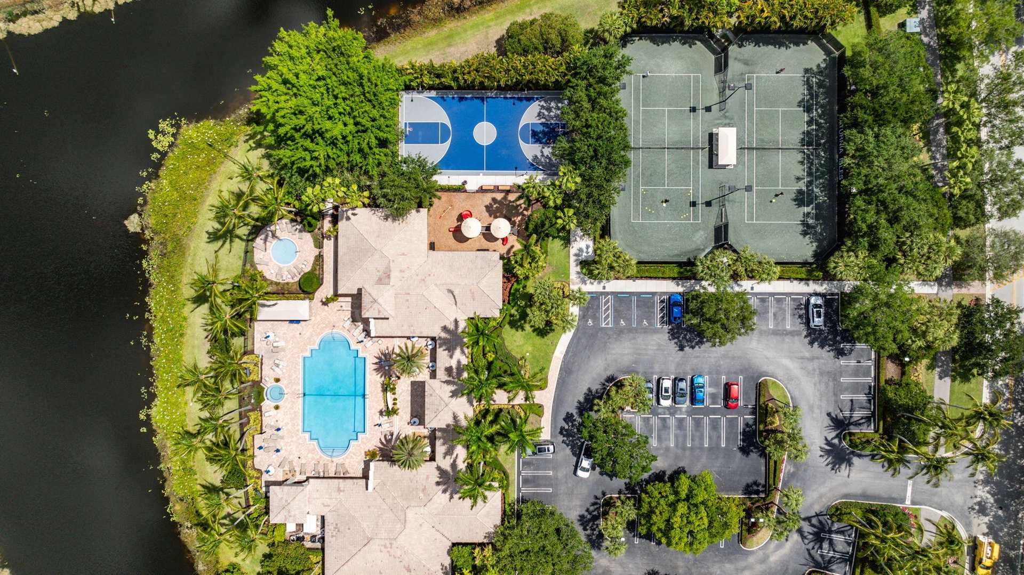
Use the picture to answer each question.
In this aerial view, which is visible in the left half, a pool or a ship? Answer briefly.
pool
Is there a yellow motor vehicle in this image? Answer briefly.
Yes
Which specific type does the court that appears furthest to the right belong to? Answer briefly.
tennis court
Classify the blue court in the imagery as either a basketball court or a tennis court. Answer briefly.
basketball court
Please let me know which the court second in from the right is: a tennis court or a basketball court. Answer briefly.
tennis court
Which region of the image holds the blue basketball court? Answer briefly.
top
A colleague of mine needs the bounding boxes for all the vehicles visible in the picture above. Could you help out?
[526,442,556,457]
[808,296,824,328]
[690,375,705,406]
[669,293,682,323]
[658,376,672,406]
[576,441,593,478]
[725,381,739,409]
[975,537,1006,575]
[674,376,688,405]
[640,377,654,403]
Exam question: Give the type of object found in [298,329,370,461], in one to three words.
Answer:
swimming pool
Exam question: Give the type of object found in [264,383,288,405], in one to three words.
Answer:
swimming pool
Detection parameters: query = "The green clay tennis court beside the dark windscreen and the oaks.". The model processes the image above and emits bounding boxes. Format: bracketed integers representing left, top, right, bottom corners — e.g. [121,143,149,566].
[722,34,838,261]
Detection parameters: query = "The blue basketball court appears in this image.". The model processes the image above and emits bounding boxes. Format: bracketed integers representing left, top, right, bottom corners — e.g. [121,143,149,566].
[399,91,570,176]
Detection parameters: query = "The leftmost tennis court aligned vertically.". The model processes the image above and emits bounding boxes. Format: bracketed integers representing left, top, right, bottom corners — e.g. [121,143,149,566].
[613,34,722,261]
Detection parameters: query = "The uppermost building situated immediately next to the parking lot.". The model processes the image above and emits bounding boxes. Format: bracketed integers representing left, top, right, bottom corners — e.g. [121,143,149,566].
[338,208,503,336]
